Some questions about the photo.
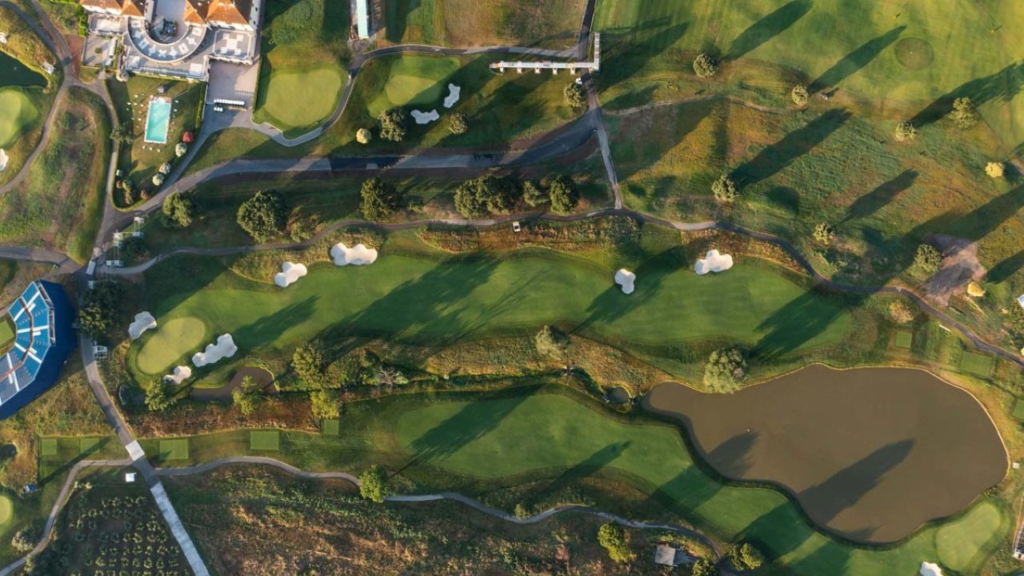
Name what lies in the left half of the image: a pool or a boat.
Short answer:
pool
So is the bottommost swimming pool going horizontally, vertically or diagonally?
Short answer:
vertically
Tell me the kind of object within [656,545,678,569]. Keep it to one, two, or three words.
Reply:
shed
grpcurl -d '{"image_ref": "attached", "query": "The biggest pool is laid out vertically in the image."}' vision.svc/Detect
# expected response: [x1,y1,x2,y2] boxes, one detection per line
[143,93,173,145]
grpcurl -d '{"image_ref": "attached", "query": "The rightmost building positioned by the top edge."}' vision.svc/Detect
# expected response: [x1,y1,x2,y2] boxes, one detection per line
[350,0,386,38]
